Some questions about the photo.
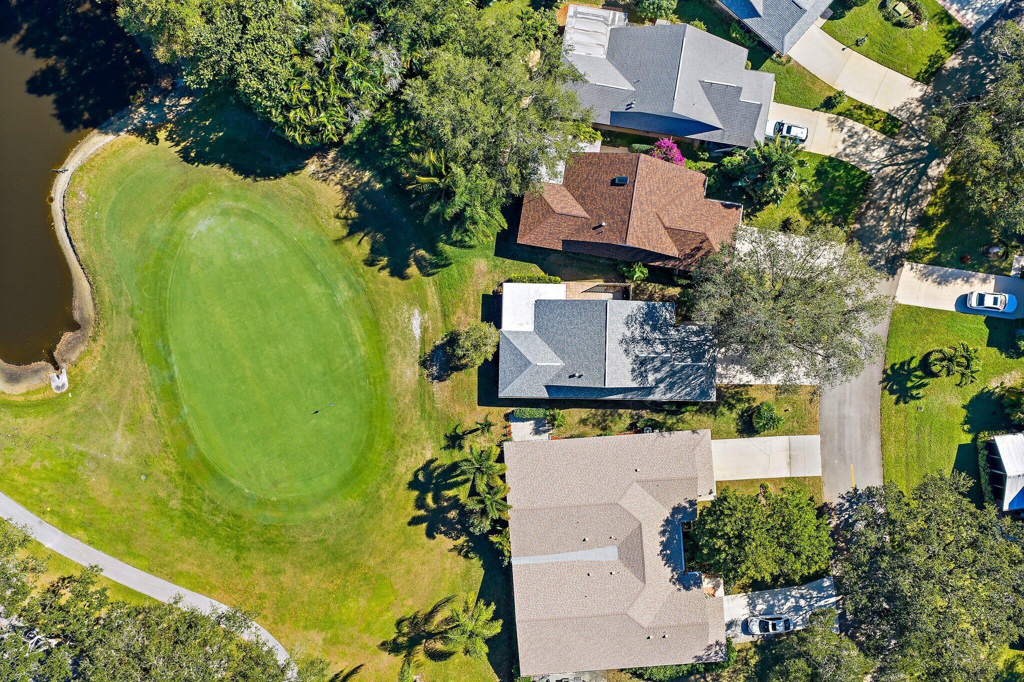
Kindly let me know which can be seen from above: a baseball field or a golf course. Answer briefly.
golf course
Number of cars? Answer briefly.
3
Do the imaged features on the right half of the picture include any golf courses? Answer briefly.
No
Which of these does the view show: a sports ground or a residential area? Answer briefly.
residential area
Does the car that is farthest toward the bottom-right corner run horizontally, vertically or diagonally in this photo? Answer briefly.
horizontally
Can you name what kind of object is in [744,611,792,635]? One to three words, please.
car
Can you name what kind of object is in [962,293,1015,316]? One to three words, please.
car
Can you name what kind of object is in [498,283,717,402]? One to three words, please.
house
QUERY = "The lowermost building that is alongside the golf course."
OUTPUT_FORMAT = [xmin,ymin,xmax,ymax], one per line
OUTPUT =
[504,429,728,677]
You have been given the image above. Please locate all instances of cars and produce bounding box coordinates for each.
[962,293,1015,316]
[744,611,792,635]
[766,121,808,148]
